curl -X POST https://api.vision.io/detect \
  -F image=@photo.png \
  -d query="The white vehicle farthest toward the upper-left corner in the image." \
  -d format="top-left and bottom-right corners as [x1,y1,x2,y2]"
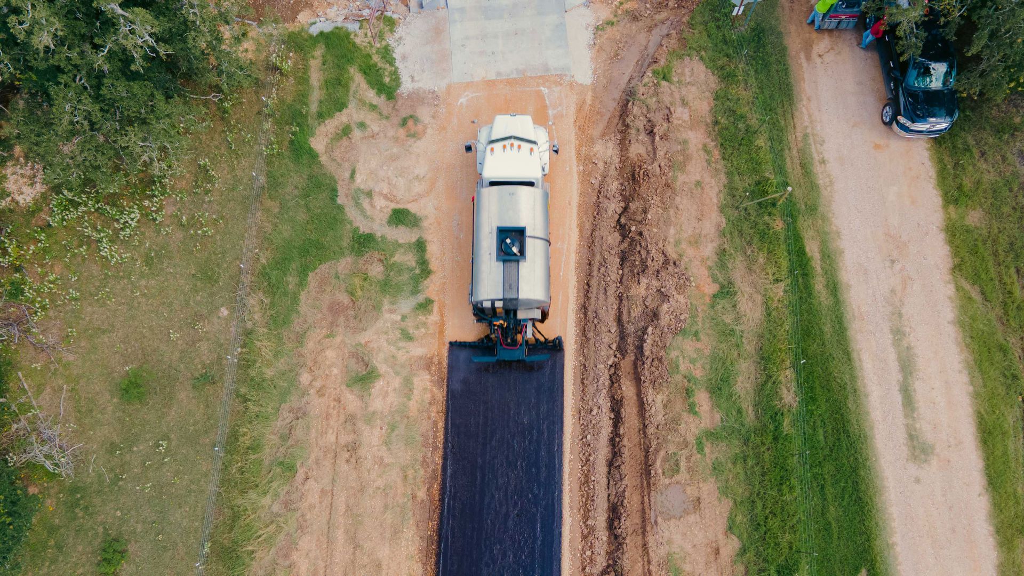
[448,112,565,369]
